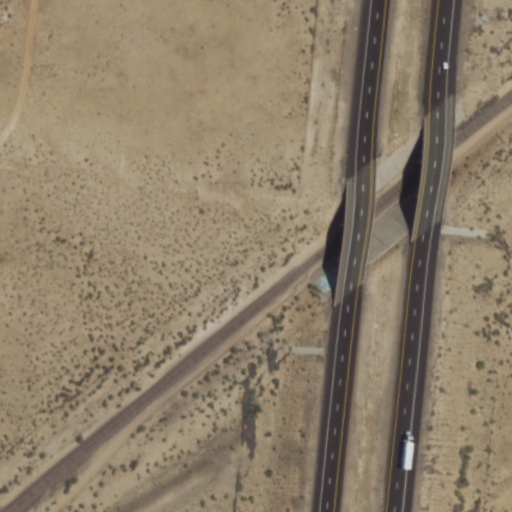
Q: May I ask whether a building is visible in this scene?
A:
No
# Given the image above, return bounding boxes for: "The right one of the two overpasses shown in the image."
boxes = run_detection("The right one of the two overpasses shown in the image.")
[410,94,456,242]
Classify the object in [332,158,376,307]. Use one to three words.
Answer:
overpass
